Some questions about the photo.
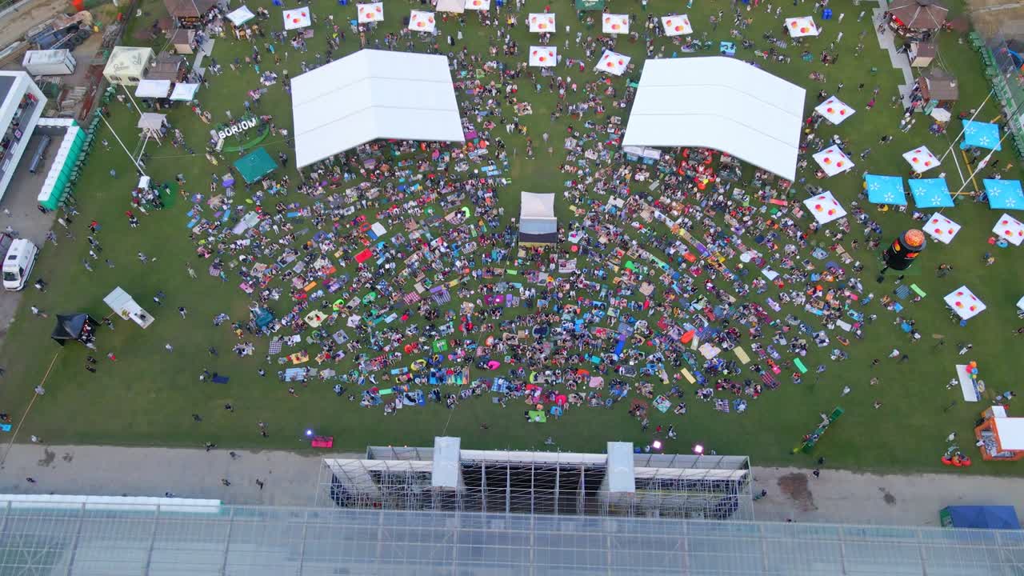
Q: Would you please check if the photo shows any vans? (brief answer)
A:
Yes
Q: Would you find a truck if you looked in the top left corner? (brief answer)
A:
Yes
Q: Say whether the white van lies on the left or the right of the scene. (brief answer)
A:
left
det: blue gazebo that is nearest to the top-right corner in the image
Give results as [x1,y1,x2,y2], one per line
[951,119,1003,163]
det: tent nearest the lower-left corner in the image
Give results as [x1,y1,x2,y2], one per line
[51,313,100,345]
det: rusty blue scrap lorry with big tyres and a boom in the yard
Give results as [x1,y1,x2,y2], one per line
[26,10,98,51]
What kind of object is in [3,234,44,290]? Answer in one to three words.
van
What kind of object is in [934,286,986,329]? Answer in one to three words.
gazebo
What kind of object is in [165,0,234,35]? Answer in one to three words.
building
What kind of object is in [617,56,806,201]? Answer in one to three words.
tent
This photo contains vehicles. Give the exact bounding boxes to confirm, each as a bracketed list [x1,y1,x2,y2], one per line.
[3,234,44,290]
[0,238,15,275]
[26,10,98,51]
